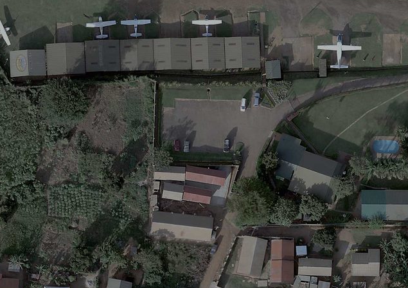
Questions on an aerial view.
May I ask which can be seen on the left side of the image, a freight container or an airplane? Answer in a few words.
airplane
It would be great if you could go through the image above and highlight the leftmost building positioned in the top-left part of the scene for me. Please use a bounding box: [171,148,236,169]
[9,50,45,78]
